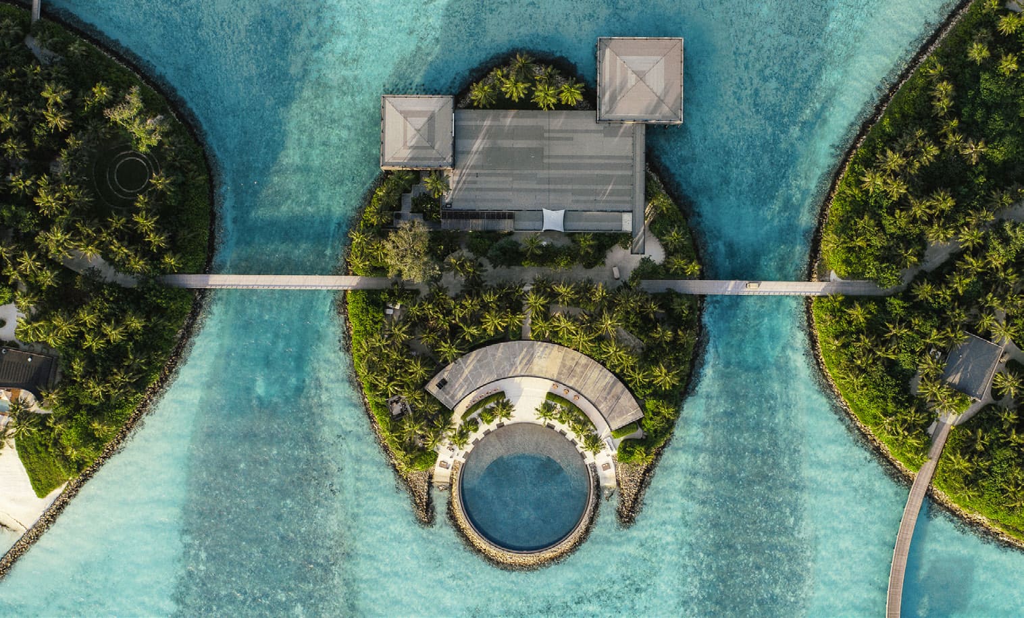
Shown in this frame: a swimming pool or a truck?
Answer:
swimming pool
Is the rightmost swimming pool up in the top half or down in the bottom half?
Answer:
bottom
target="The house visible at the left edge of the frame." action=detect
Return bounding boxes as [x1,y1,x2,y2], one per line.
[0,346,59,394]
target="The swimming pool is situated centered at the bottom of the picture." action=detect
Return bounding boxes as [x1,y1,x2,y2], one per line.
[457,420,592,558]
